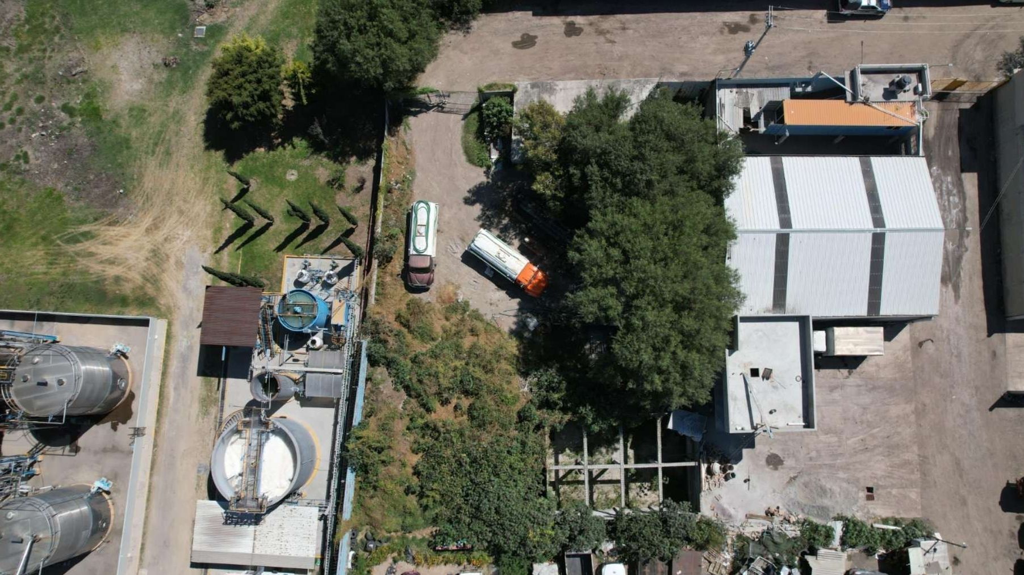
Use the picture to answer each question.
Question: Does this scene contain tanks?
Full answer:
Yes, looking at the shot, I can spot a tank.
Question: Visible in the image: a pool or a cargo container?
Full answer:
I can see a cargo container in this picture.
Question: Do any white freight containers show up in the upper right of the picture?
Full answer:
No, I see no white freight container in the upper right of the picture.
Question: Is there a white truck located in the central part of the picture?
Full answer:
Yes, you'll find a white truck in the central part of the picture.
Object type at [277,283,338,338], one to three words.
storage tank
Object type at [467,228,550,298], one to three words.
truck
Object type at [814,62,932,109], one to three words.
building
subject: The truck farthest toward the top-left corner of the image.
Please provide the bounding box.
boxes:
[405,202,439,288]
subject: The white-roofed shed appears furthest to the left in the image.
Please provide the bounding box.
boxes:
[190,493,329,569]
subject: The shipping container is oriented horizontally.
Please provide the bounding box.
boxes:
[762,99,919,140]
